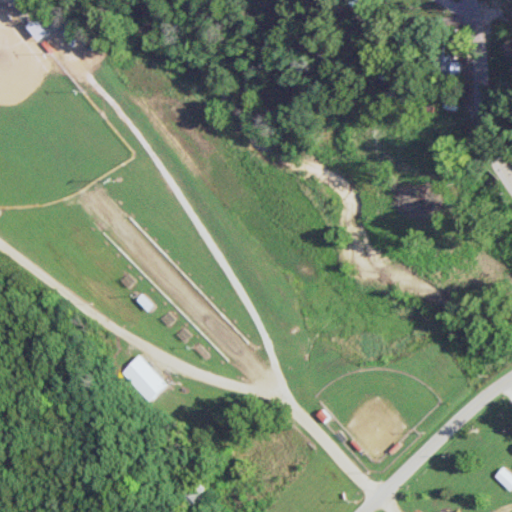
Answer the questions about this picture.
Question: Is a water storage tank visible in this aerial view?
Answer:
No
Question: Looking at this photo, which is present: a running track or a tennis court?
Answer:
running track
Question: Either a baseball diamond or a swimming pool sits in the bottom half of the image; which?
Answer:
baseball diamond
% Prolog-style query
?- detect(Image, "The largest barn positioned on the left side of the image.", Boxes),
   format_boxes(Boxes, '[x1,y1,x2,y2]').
[121,354,169,404]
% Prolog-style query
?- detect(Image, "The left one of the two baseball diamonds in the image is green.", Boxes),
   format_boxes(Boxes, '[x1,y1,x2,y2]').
[0,12,135,210]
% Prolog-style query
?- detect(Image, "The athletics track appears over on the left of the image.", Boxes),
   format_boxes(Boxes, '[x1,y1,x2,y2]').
[86,188,274,385]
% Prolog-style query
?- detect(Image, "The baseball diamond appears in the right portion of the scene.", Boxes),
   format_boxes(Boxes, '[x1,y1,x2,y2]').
[315,367,441,474]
